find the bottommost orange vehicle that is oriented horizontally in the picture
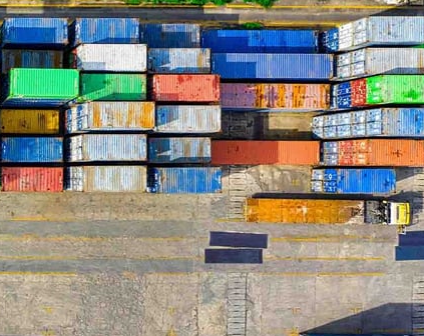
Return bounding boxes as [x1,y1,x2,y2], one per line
[243,198,409,231]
